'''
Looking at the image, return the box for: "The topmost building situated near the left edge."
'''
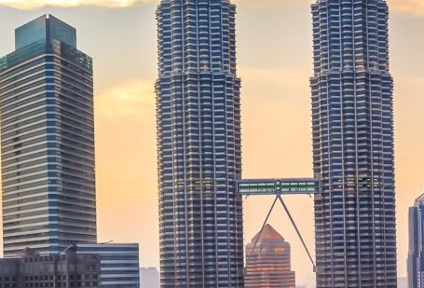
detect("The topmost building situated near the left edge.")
[0,17,95,257]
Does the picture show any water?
No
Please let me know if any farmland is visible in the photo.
No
